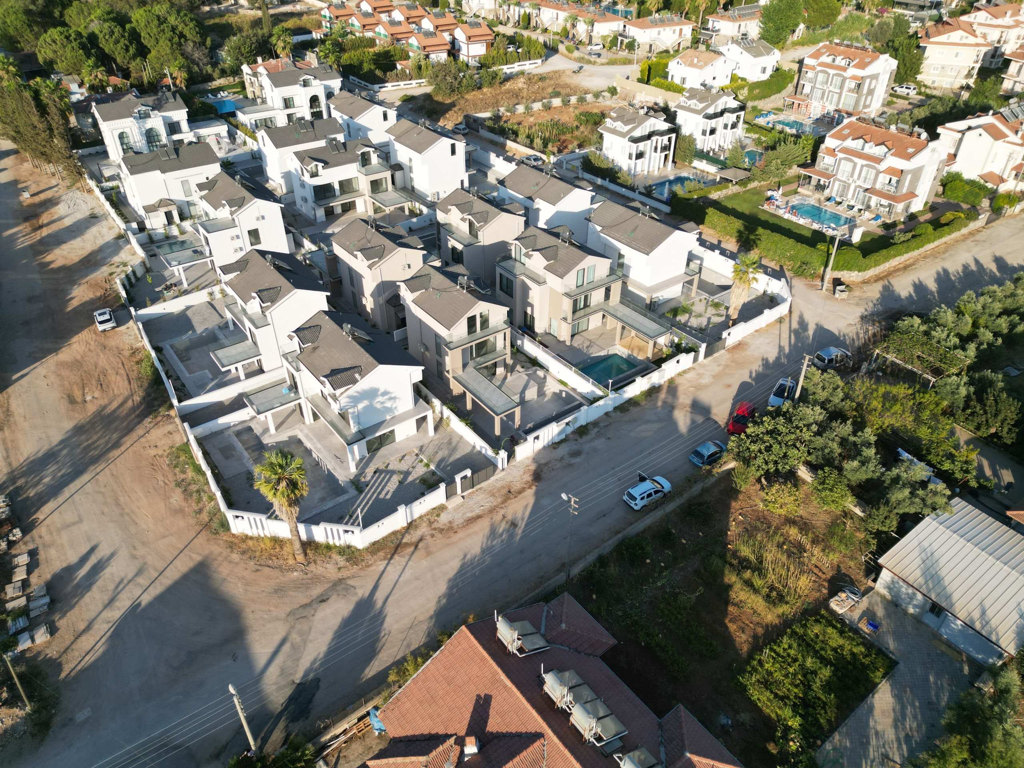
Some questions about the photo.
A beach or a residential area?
residential area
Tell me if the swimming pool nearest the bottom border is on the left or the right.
left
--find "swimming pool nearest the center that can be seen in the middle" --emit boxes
[577,351,641,386]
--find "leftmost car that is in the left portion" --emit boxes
[94,309,118,331]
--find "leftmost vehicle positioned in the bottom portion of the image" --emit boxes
[623,473,672,510]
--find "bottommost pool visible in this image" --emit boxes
[225,424,357,515]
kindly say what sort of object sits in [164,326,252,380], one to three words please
swimming pool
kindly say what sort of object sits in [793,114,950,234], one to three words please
house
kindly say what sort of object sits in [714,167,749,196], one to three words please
building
